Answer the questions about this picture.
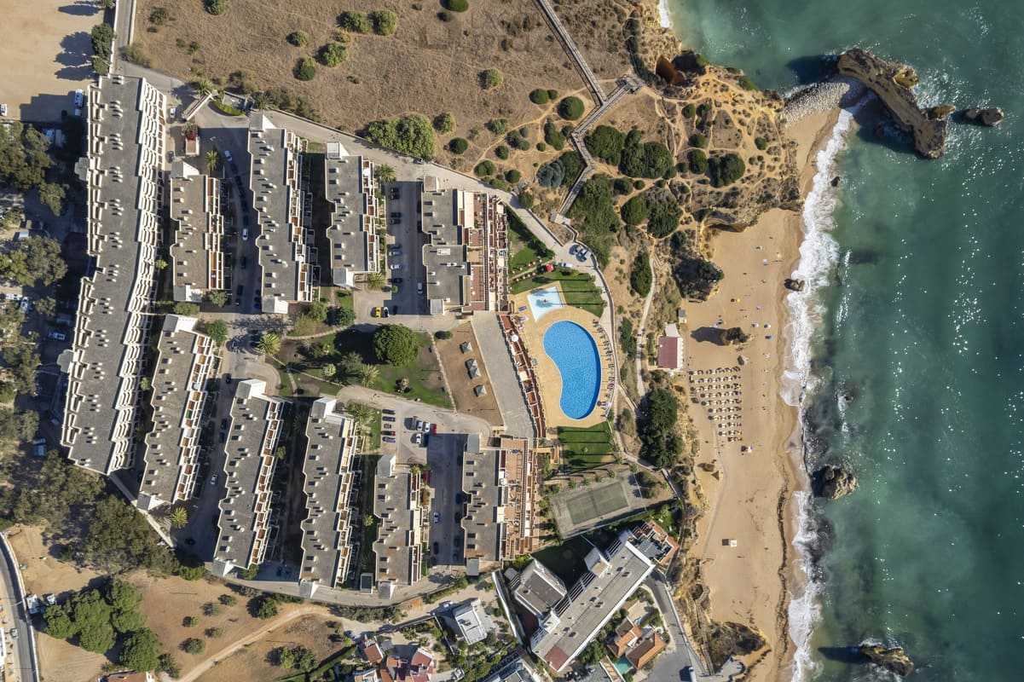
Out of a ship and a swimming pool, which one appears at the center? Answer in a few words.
swimming pool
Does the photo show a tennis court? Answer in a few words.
Yes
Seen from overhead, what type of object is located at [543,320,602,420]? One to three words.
swimming pool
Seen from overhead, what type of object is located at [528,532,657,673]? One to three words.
building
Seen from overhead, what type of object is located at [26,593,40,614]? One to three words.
camper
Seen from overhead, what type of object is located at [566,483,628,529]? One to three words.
tennis court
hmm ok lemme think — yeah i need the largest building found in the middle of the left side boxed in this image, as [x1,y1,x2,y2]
[57,76,174,475]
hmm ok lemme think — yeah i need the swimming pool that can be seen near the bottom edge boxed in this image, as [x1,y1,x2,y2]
[615,655,633,676]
